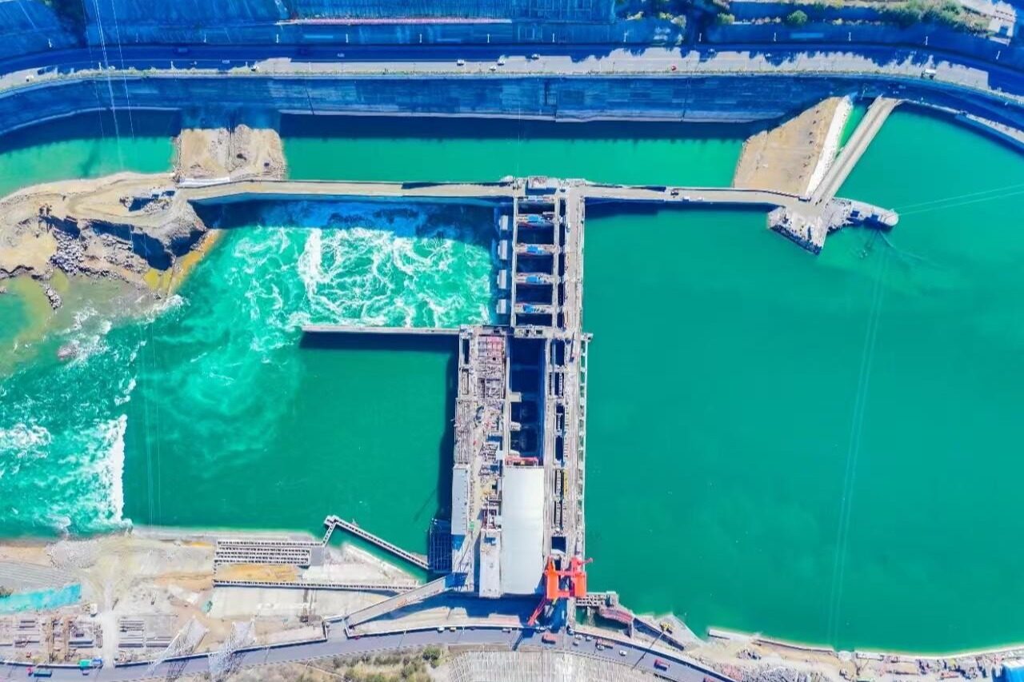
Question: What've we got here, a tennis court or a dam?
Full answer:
Of the two, only a dam appears.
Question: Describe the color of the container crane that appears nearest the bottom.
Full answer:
From above, the container crane that appears nearest the bottom appears red.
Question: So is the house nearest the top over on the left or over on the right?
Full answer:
It is on the right.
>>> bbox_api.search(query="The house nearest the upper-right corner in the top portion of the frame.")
[981,2,1016,44]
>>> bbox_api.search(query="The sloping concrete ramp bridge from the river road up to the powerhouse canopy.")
[345,573,448,628]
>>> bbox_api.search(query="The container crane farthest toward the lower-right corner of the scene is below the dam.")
[528,551,593,625]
